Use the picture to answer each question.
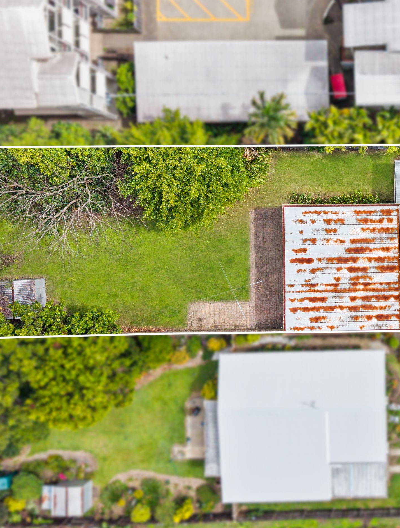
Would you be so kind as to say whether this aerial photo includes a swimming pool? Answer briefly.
No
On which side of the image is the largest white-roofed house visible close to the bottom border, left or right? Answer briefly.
right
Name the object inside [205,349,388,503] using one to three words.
house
